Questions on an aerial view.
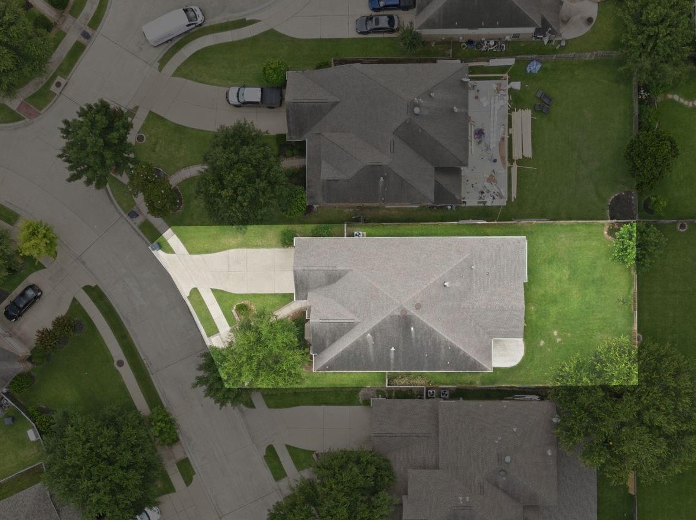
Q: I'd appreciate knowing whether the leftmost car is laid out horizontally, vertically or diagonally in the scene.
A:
diagonally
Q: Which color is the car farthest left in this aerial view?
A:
black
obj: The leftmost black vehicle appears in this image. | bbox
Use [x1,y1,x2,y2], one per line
[1,279,44,326]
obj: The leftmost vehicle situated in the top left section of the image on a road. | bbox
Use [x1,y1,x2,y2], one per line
[137,5,204,48]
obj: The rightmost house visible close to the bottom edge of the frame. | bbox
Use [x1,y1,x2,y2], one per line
[370,398,598,520]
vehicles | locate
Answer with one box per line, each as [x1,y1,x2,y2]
[123,505,164,520]
[367,0,414,13]
[354,13,401,35]
[137,5,204,48]
[1,279,44,326]
[226,84,284,109]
